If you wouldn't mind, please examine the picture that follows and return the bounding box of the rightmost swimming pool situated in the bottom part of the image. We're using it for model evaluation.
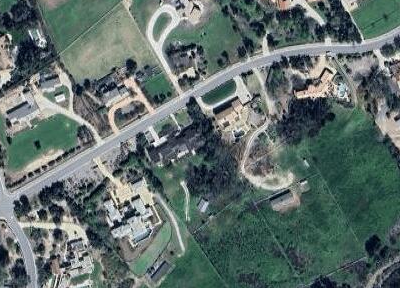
[132,226,153,242]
